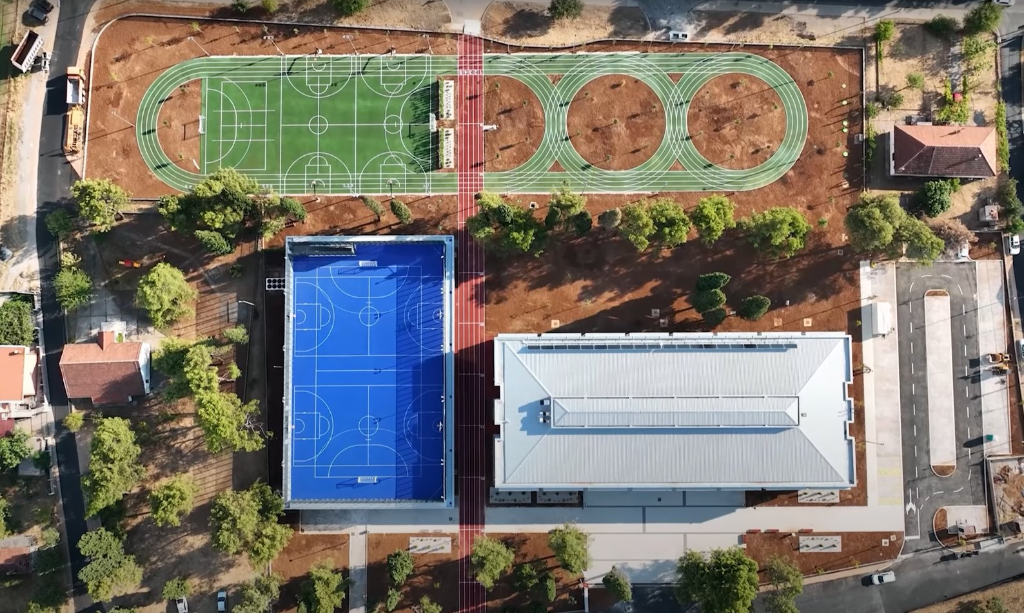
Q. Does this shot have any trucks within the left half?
Yes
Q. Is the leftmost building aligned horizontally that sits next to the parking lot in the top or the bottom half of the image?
bottom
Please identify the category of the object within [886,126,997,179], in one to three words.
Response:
house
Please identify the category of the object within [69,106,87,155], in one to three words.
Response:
vehicle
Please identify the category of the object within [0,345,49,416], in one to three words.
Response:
building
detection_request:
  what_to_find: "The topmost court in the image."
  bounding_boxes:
[201,54,437,193]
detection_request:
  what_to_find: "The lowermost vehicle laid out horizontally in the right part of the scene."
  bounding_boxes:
[868,571,897,585]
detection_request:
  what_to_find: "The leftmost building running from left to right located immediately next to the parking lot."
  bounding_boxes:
[493,331,857,489]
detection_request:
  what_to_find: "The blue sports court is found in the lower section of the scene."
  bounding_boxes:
[293,243,446,501]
